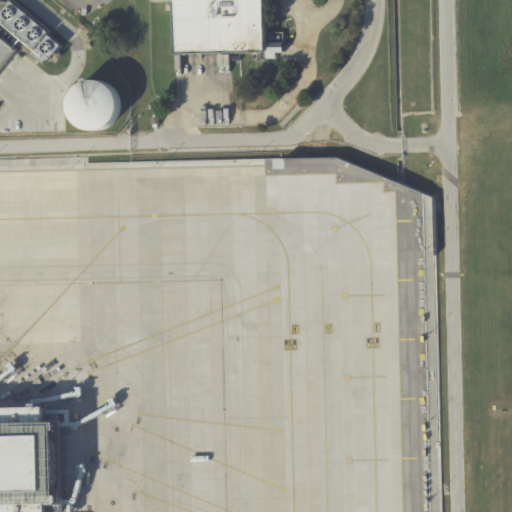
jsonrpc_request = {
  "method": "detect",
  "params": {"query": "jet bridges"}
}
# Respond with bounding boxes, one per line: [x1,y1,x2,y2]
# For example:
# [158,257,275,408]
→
[28,387,82,407]
[64,502,74,512]
[46,396,116,428]
[0,361,15,381]
[52,459,86,506]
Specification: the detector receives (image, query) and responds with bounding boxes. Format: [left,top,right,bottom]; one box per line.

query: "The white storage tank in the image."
[64,78,121,132]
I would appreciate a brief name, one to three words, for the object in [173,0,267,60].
building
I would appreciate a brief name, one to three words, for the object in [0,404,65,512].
building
